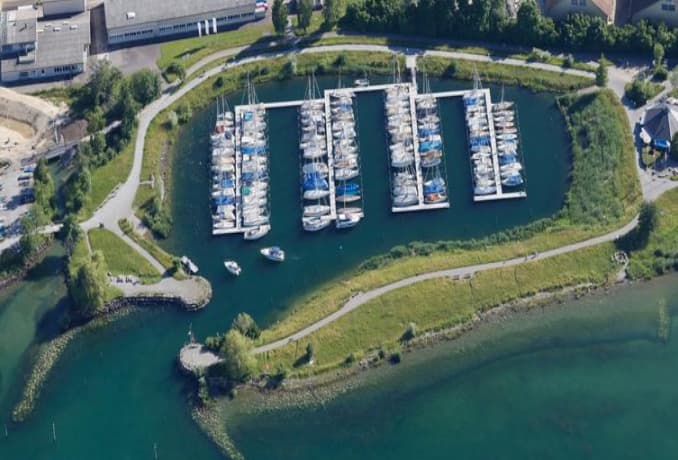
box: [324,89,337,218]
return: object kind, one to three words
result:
pier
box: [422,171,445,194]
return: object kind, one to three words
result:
boat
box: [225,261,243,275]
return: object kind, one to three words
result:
boat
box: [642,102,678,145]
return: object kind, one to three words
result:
building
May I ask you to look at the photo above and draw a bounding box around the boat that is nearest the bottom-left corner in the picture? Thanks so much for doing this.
[181,255,199,274]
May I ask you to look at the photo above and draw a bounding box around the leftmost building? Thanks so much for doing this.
[0,0,87,82]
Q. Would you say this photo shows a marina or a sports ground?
marina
